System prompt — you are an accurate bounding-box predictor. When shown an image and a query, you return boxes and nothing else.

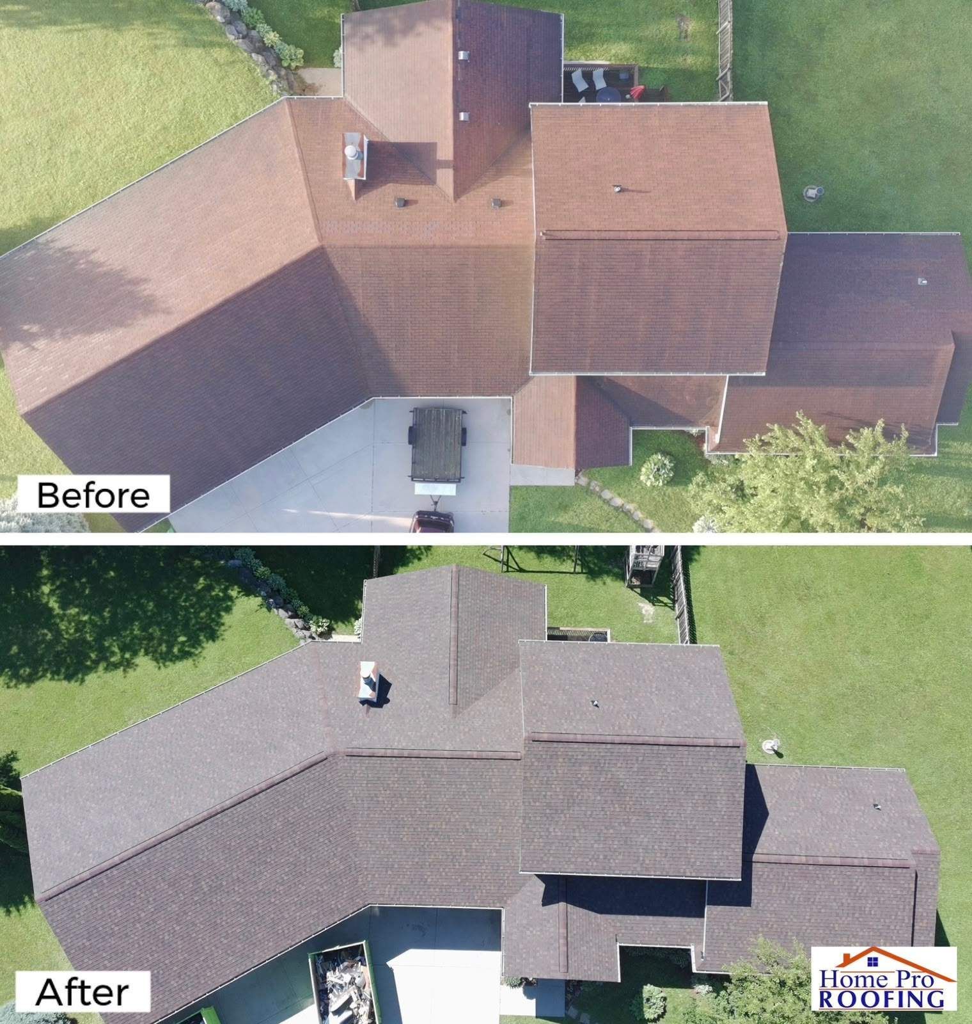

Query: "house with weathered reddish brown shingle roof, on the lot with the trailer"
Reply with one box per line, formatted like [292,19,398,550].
[0,0,972,538]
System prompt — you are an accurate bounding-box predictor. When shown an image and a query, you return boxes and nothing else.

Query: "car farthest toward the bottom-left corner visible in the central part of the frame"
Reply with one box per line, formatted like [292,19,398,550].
[410,510,454,533]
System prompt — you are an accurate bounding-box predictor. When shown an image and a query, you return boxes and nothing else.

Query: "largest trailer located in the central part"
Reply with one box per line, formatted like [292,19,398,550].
[405,408,467,510]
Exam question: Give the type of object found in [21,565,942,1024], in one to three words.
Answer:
house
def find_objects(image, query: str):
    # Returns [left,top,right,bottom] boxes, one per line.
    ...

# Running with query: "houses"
[21,565,942,1024]
[0,0,972,538]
